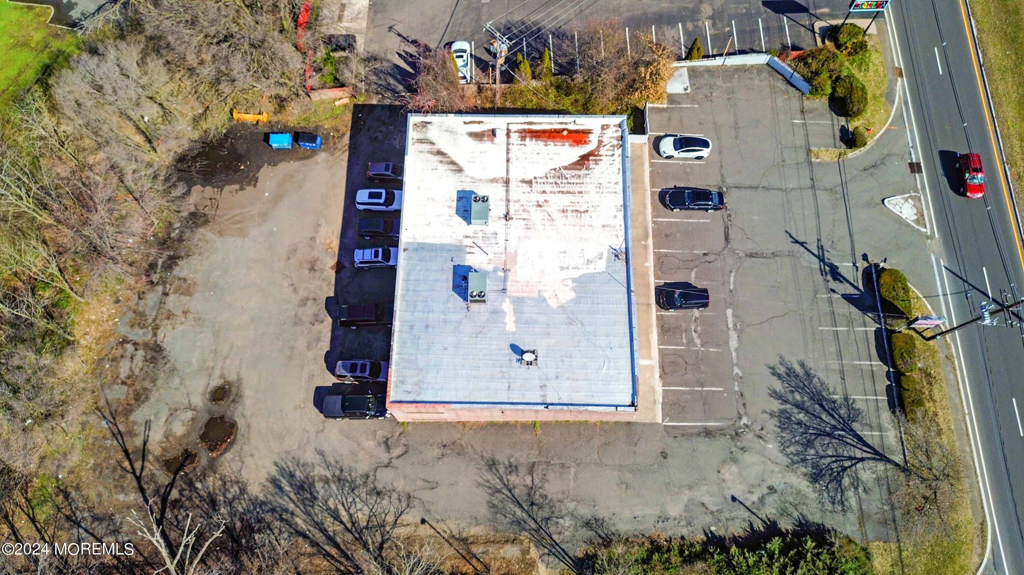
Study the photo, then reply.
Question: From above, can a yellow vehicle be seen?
No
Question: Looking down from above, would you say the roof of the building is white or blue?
white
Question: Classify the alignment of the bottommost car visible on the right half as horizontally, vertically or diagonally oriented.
horizontally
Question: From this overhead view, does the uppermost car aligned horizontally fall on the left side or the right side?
right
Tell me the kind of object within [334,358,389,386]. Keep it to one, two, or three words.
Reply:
car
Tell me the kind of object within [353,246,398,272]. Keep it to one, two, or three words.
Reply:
car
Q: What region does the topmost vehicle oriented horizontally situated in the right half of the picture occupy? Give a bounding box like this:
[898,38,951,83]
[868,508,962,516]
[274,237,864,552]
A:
[659,133,712,159]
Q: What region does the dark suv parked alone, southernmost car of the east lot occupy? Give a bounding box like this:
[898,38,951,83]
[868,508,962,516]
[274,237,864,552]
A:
[659,285,711,311]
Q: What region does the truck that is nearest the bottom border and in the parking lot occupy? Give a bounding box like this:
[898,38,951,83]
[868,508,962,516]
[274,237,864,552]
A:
[322,394,394,423]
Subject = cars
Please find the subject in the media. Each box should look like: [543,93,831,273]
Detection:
[353,246,398,272]
[354,188,402,215]
[659,133,712,159]
[955,151,987,200]
[357,216,400,243]
[449,42,473,86]
[665,187,724,213]
[334,358,389,386]
[336,303,394,332]
[366,160,405,185]
[659,285,711,311]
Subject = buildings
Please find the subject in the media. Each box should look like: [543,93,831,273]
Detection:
[385,115,637,425]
